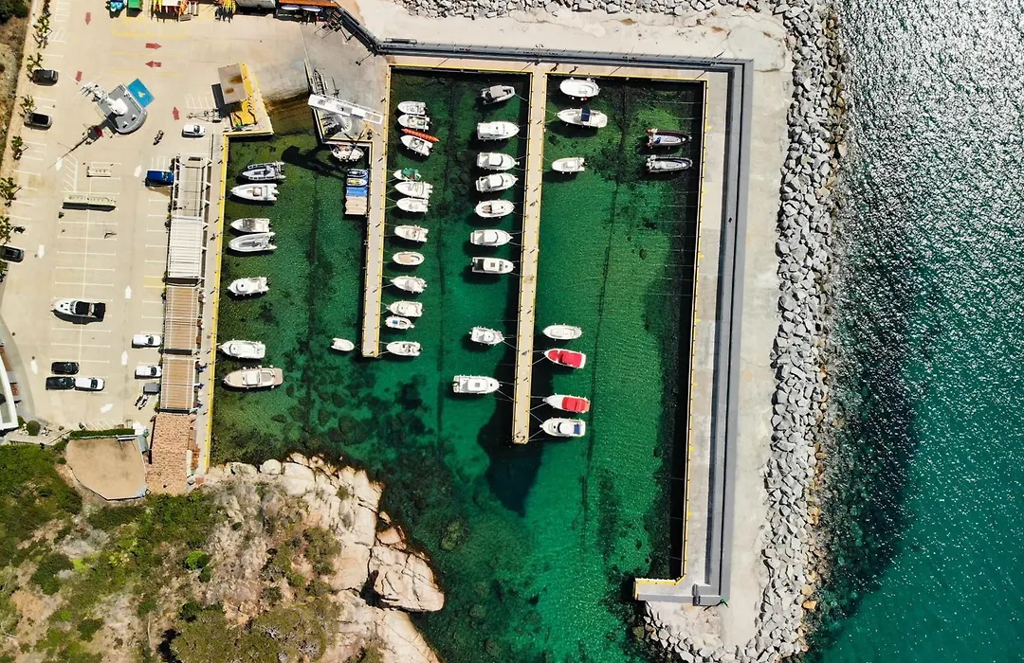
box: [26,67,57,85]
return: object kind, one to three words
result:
car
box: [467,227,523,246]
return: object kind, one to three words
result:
boat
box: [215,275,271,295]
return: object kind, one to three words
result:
boat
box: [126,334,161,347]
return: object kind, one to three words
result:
vehicle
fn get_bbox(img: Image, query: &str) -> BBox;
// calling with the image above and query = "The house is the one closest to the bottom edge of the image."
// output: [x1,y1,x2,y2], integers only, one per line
[147,414,195,494]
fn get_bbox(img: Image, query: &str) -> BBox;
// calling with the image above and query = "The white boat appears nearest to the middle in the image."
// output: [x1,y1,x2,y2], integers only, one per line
[465,325,519,348]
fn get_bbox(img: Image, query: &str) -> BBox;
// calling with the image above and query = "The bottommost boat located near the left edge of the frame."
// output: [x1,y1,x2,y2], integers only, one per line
[51,298,107,320]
